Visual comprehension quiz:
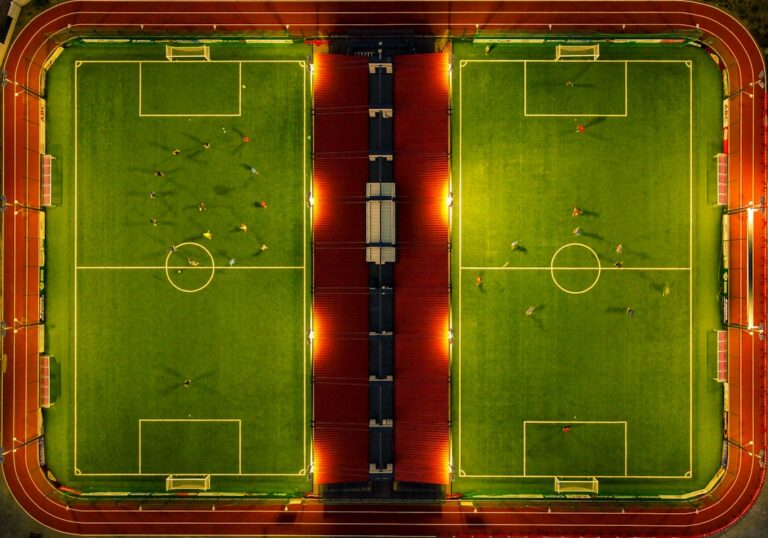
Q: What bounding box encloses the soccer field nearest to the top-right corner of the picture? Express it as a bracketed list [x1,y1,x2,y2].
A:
[451,38,723,498]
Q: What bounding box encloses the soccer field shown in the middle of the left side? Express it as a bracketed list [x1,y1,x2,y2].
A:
[44,38,313,498]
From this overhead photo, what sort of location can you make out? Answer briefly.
sports ground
